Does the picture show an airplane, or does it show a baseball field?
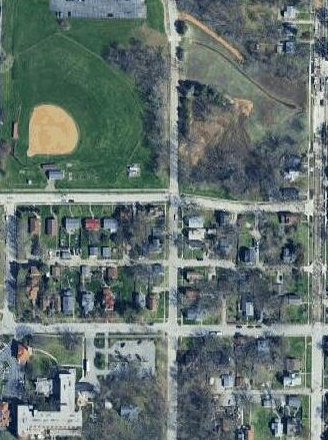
baseball field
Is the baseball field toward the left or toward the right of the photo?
left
